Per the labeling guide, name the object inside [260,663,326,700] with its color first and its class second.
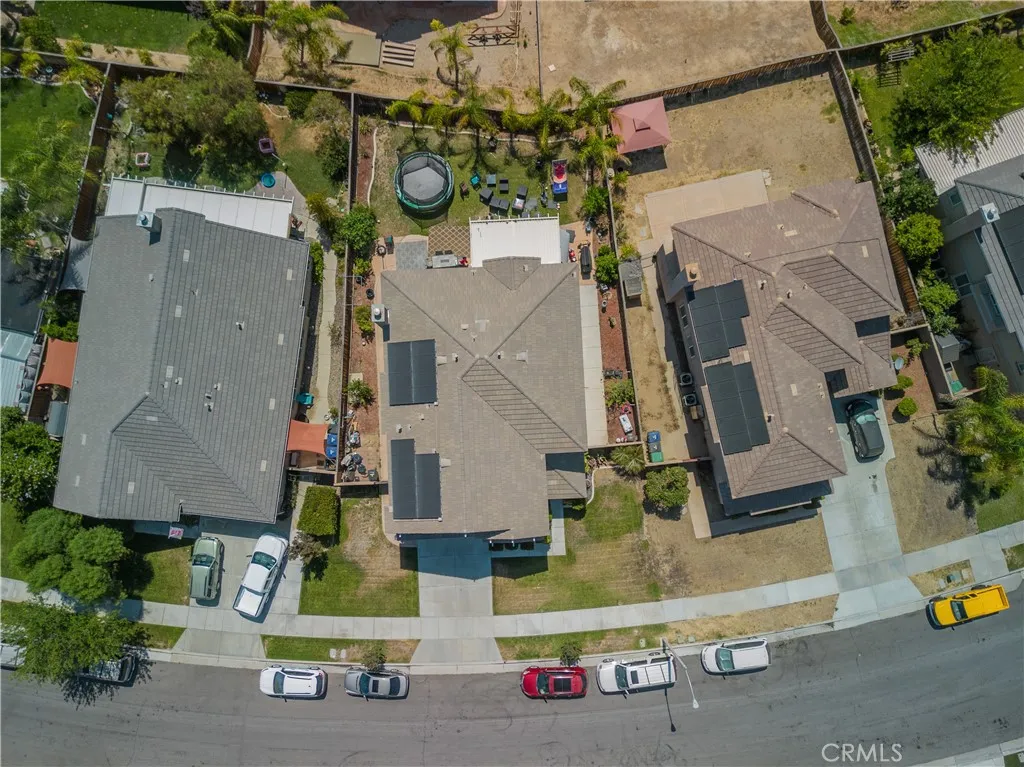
white car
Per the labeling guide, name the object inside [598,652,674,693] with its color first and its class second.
white car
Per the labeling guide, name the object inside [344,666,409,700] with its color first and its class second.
gray car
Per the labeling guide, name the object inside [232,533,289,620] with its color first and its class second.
white truck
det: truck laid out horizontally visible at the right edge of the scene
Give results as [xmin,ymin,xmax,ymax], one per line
[924,583,1013,627]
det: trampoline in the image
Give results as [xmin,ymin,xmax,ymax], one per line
[394,154,454,220]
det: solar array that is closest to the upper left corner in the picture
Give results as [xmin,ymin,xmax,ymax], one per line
[387,340,435,405]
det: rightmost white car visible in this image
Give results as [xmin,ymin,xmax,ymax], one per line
[700,637,770,675]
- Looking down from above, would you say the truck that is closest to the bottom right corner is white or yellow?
yellow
